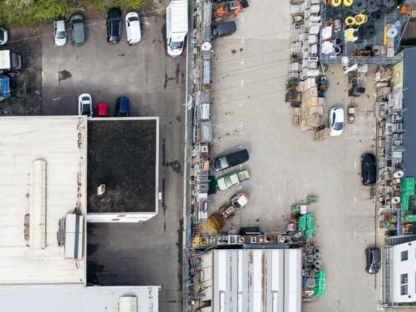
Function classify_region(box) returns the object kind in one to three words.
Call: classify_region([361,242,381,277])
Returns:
car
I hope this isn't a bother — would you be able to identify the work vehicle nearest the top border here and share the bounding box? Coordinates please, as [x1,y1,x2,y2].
[211,0,249,22]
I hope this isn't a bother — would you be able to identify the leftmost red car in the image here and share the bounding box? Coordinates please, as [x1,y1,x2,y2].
[93,98,108,117]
